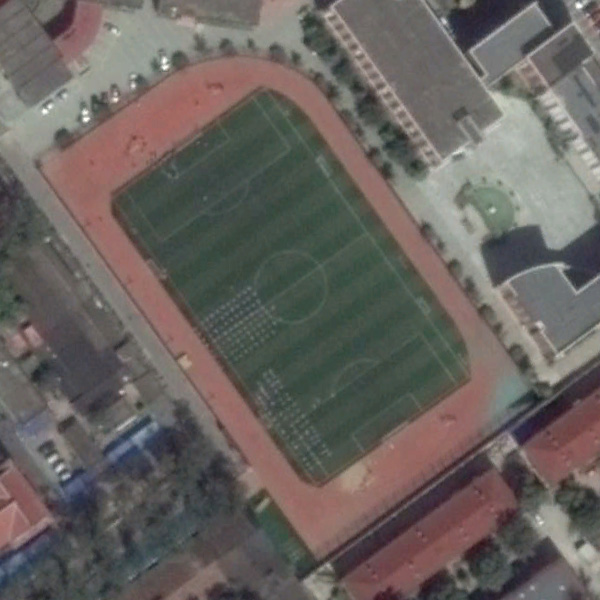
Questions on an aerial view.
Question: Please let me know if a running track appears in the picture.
Yes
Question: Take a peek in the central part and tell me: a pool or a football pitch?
football pitch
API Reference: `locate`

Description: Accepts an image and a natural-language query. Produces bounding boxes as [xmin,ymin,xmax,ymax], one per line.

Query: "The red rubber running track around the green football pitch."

[38,56,532,560]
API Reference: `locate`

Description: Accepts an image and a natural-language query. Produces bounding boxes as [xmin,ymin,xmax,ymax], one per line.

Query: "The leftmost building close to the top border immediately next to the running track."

[0,0,73,112]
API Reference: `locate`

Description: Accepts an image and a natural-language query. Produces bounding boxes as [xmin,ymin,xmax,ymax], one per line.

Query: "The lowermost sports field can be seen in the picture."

[248,488,316,574]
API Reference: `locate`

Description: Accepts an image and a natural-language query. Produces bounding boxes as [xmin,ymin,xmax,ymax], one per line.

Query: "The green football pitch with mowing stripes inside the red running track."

[117,91,466,481]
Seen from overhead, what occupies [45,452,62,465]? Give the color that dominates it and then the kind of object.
white vehicle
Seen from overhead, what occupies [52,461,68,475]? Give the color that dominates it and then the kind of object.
white vehicle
